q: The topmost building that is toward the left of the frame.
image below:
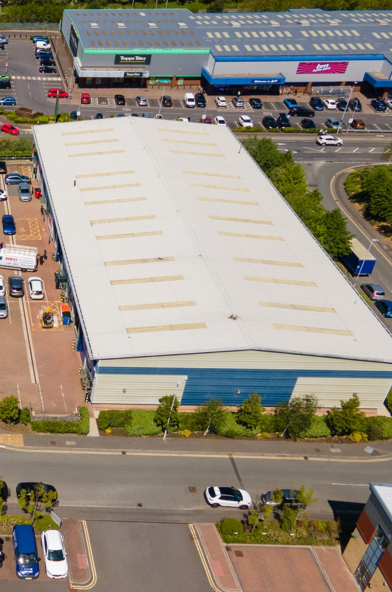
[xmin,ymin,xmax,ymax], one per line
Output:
[58,8,208,85]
